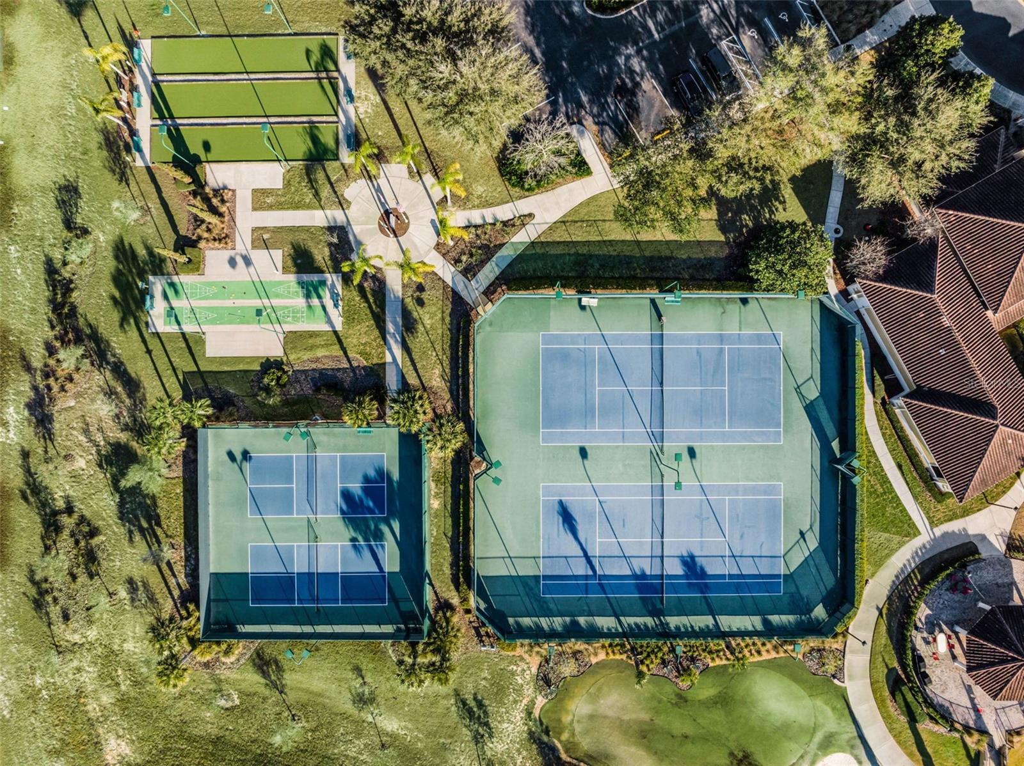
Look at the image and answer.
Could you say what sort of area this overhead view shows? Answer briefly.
sports ground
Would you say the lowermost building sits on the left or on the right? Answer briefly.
right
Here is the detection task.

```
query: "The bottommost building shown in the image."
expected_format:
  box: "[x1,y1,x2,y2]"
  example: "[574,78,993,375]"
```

[950,598,1024,703]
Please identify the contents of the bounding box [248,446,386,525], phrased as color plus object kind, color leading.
blue sports court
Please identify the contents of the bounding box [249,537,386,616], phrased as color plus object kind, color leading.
blue sports court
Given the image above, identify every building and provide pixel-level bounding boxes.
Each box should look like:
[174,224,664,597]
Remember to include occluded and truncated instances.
[950,598,1024,703]
[850,125,1024,503]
